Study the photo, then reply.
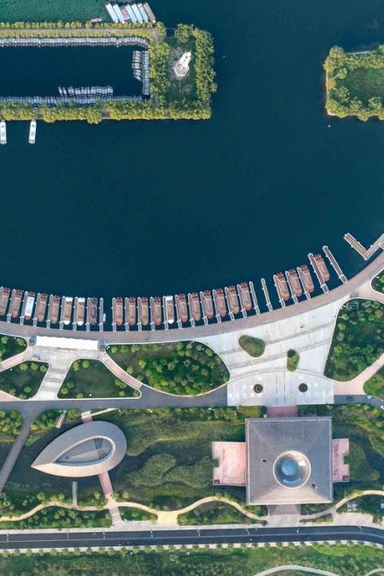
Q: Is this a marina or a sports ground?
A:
marina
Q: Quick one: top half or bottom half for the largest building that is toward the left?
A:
bottom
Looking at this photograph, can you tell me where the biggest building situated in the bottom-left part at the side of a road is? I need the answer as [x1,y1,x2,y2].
[31,421,126,477]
